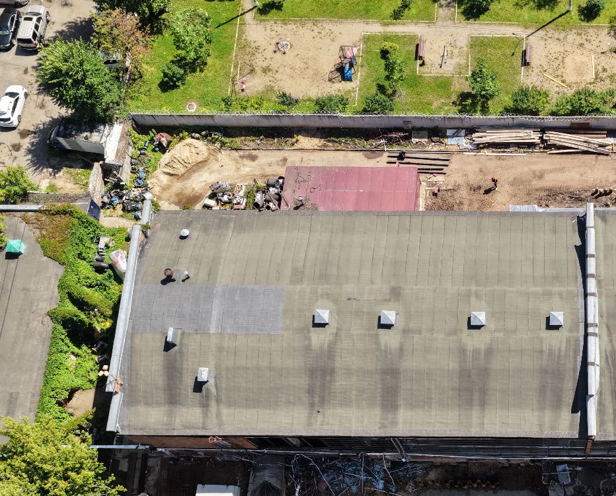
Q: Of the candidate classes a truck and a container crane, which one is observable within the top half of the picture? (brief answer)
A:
truck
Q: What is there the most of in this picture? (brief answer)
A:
buildings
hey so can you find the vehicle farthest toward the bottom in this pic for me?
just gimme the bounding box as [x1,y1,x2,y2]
[42,117,105,155]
